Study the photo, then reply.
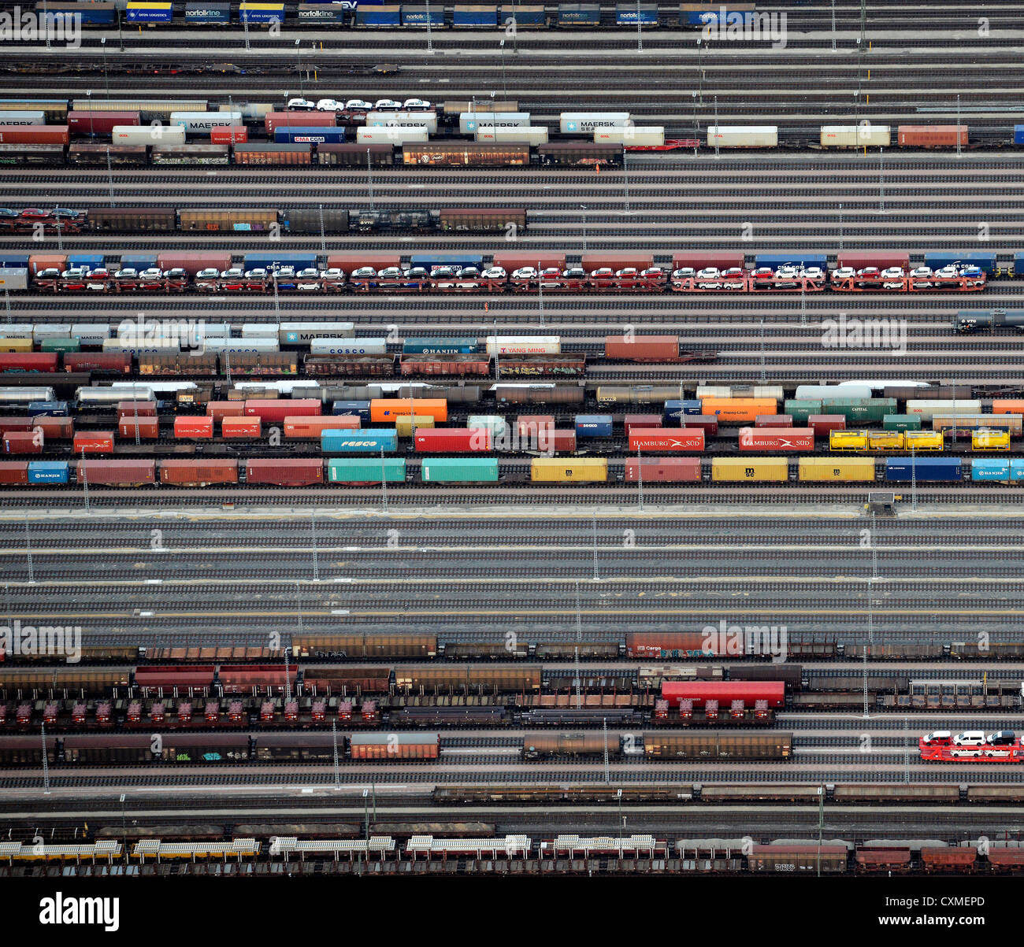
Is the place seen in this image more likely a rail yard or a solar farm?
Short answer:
rail yard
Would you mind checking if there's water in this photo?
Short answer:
No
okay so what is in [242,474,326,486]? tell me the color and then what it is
red rail car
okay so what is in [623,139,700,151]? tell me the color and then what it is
red rail car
